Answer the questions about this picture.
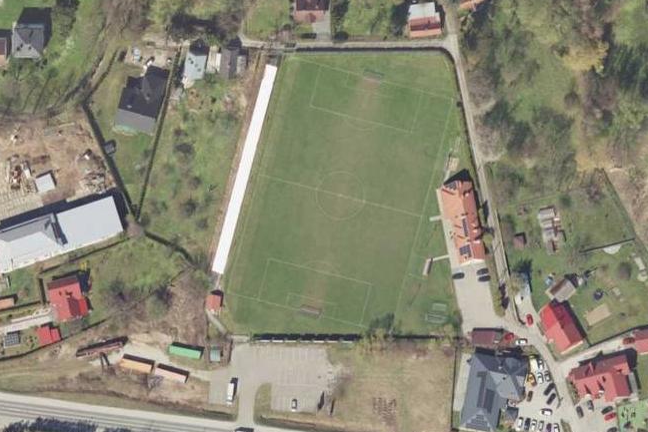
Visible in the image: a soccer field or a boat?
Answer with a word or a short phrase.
soccer field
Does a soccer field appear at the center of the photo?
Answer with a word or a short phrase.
Yes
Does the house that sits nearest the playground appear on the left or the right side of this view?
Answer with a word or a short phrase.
right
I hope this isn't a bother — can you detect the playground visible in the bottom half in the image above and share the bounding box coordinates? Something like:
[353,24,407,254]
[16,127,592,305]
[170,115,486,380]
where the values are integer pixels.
[618,400,648,432]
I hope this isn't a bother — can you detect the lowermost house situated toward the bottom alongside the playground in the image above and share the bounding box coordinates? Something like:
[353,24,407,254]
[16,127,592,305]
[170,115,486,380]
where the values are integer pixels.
[571,357,634,401]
